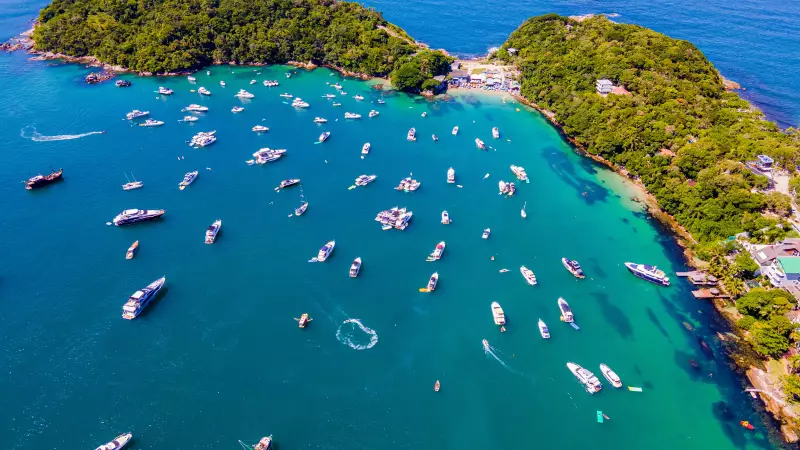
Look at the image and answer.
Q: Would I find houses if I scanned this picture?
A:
Yes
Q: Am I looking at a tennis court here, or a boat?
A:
boat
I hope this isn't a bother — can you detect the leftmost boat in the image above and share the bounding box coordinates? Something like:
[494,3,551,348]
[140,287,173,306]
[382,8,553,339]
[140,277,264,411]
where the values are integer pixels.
[27,163,61,187]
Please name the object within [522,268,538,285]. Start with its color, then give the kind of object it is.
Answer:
white boat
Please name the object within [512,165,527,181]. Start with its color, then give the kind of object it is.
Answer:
white boat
